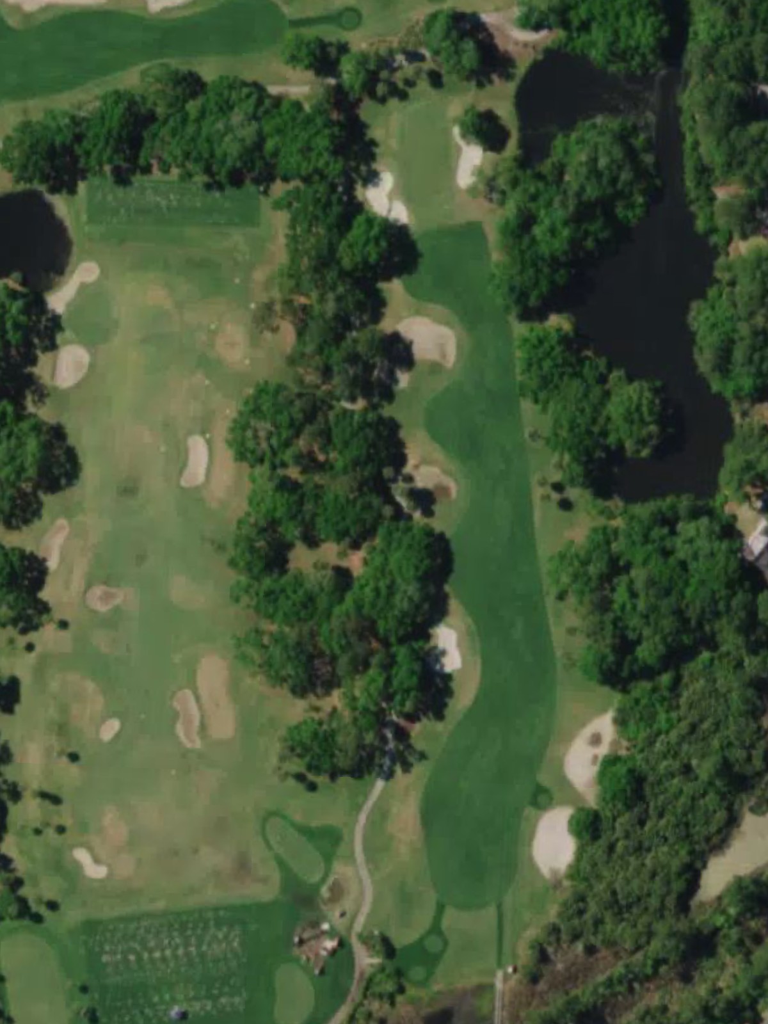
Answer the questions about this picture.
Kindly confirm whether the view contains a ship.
No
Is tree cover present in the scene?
Yes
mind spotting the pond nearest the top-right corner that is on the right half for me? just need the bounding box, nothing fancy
[515,0,735,505]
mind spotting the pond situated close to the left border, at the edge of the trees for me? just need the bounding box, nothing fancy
[0,189,72,298]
